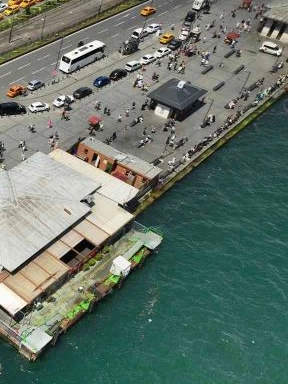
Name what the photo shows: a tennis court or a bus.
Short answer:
bus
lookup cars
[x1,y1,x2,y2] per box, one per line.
[27,101,53,114]
[0,4,9,13]
[108,67,130,83]
[158,34,176,45]
[91,74,113,89]
[123,59,145,73]
[24,80,47,92]
[51,95,76,109]
[8,0,24,6]
[183,10,197,22]
[258,44,286,58]
[140,54,159,66]
[4,85,29,98]
[177,30,191,42]
[146,23,164,34]
[139,7,158,17]
[3,5,20,16]
[152,47,173,59]
[130,27,149,40]
[69,84,94,101]
[20,0,37,9]
[165,39,184,51]
[180,20,194,31]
